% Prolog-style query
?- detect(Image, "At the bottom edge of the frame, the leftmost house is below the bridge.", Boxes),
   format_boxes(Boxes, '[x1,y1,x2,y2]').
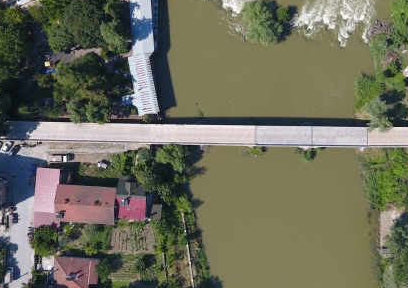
[53,253,92,288]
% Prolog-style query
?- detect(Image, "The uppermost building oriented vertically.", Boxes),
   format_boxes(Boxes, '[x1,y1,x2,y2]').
[130,0,155,49]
